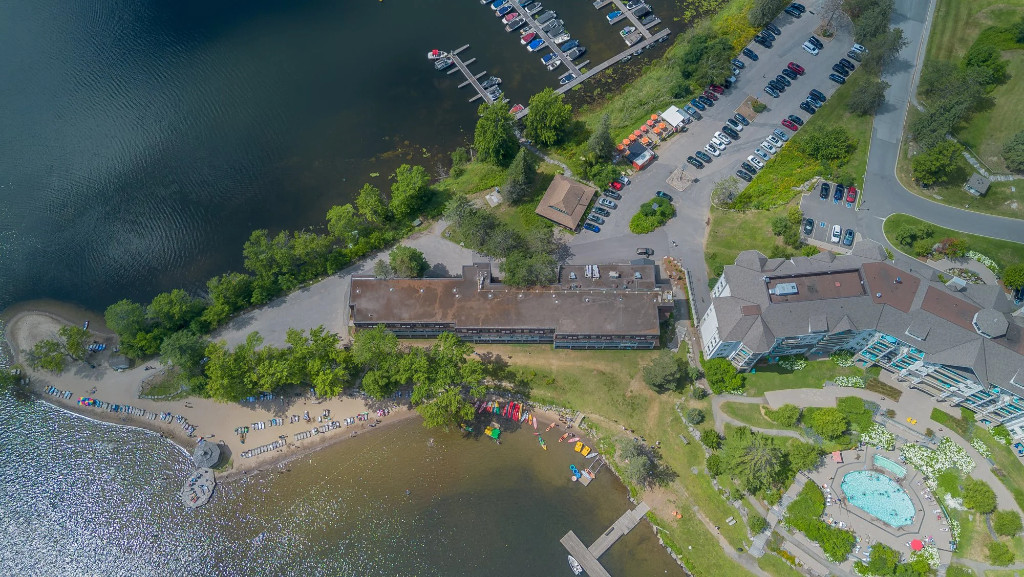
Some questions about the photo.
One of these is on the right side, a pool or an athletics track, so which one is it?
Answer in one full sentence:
The feature located on the right side is a pool.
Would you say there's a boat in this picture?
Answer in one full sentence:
Yes, I can see a boat in this picture.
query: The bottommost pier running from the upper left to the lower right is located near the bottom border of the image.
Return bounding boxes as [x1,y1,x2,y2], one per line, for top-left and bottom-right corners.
[559,528,620,577]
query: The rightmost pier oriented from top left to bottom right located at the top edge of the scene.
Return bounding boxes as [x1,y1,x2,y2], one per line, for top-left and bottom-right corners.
[613,0,653,40]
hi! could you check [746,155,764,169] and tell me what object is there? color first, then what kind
white car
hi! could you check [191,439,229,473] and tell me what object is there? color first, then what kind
gray gazebo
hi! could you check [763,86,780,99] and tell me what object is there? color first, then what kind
blue vehicle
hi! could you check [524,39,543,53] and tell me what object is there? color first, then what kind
blue boat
